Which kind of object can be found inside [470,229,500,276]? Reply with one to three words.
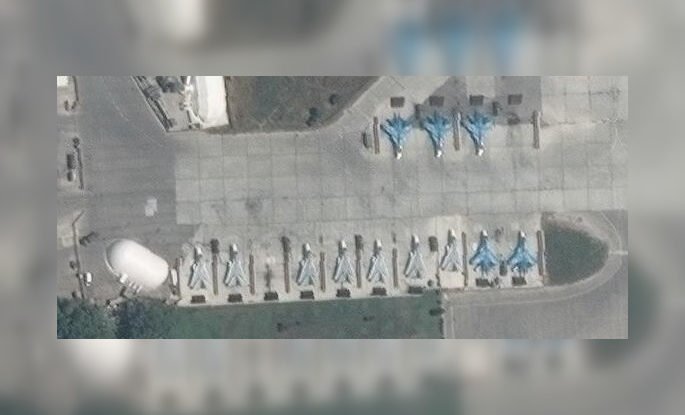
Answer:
airplane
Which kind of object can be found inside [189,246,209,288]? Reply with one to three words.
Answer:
airplane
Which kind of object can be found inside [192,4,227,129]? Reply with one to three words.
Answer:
hangar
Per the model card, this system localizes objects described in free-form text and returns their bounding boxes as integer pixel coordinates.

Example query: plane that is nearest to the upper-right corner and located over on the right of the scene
[463,110,493,155]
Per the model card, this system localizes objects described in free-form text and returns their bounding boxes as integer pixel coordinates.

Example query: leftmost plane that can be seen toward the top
[383,114,413,159]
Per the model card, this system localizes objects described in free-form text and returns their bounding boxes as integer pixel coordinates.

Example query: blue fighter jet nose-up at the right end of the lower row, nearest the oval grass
[508,232,538,276]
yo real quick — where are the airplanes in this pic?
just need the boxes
[508,232,538,276]
[370,240,389,282]
[463,110,493,155]
[383,114,413,159]
[470,229,500,276]
[423,113,453,157]
[407,236,426,278]
[299,244,318,286]
[189,246,209,288]
[335,240,355,284]
[227,245,246,287]
[443,231,462,273]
